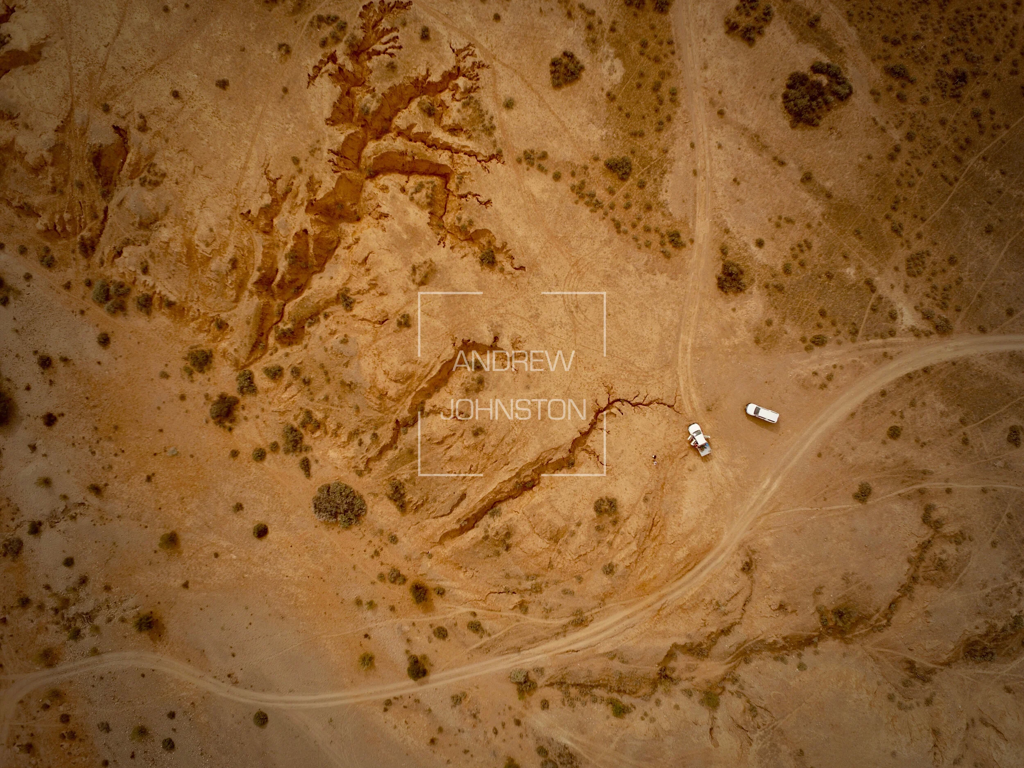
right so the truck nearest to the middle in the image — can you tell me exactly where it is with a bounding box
[687,424,714,458]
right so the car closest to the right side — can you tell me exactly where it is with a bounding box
[745,404,781,424]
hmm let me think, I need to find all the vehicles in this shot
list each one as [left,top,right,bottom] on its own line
[687,424,714,458]
[745,404,781,424]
